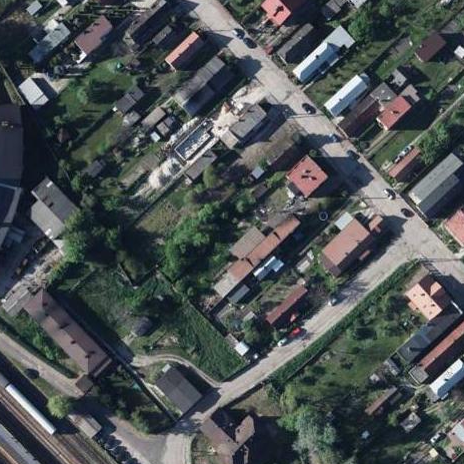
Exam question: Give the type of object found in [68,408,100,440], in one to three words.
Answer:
shed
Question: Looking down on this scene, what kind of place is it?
residential area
